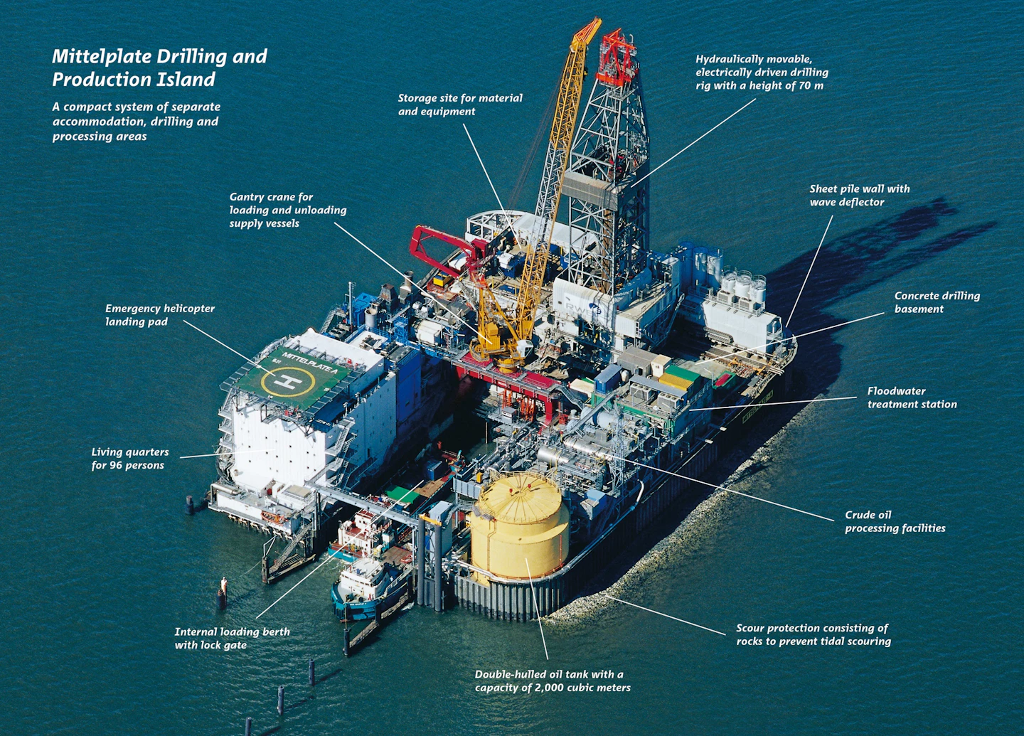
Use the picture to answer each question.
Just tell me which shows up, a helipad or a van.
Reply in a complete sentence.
It is a helipad that can be seen here.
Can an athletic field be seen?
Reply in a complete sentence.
No, this view has no athletic field in it.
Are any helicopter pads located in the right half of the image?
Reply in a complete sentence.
No, I can find no helicopter pad in the right half of the image.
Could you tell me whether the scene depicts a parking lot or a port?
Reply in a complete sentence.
This looks like a port.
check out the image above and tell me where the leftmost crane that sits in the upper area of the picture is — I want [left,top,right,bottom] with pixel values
[407,222,506,293]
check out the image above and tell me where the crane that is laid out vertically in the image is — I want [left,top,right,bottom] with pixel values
[466,16,601,374]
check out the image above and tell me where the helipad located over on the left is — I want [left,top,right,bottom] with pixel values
[223,343,363,440]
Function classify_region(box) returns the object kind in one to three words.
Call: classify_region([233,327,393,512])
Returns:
building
